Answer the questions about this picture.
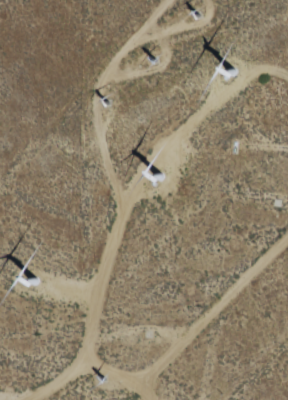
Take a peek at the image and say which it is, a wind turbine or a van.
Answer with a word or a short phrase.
wind turbine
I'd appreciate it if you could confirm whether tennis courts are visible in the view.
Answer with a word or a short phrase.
No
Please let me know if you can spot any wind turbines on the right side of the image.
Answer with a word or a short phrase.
Yes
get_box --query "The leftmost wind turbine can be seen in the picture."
[2,244,41,306]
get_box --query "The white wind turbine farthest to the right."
[204,38,238,98]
